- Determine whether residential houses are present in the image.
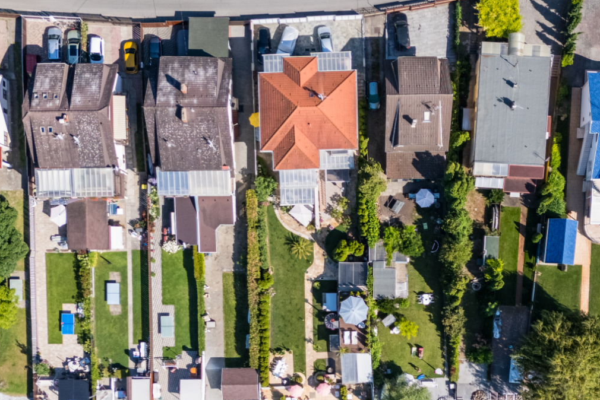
Yes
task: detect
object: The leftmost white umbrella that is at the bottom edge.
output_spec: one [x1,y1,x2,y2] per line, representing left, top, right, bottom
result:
[37,372,56,391]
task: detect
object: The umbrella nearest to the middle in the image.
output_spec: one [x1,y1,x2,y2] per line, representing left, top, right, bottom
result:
[289,205,316,228]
